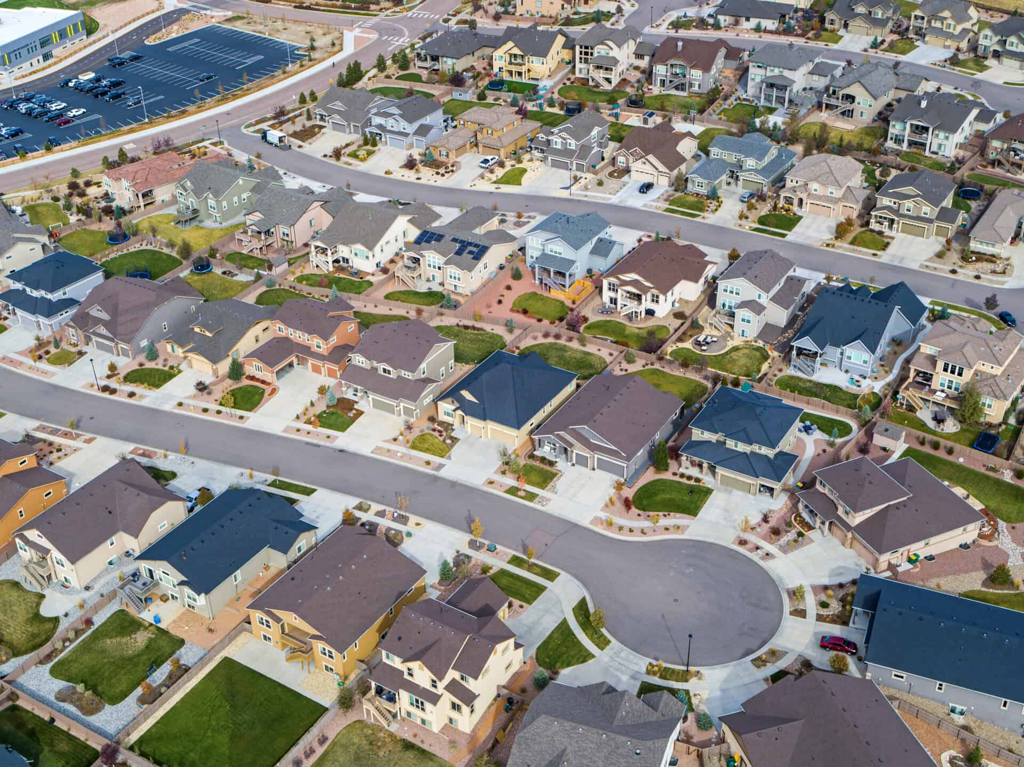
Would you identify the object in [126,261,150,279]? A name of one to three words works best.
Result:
trampoline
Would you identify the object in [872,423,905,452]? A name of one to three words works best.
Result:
shed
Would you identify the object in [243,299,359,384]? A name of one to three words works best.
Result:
house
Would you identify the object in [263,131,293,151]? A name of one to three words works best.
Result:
vehicle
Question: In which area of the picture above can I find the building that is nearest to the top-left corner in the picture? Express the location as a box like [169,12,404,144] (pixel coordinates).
[0,6,87,76]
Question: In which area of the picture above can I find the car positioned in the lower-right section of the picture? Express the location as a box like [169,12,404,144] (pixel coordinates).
[820,636,858,656]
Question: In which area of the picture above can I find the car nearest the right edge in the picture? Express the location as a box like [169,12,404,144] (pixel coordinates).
[996,306,1020,325]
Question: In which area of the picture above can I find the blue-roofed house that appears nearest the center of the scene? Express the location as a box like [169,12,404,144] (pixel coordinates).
[435,350,581,445]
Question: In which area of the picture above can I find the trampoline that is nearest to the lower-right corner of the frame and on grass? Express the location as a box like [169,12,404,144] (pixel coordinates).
[966,432,1009,454]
